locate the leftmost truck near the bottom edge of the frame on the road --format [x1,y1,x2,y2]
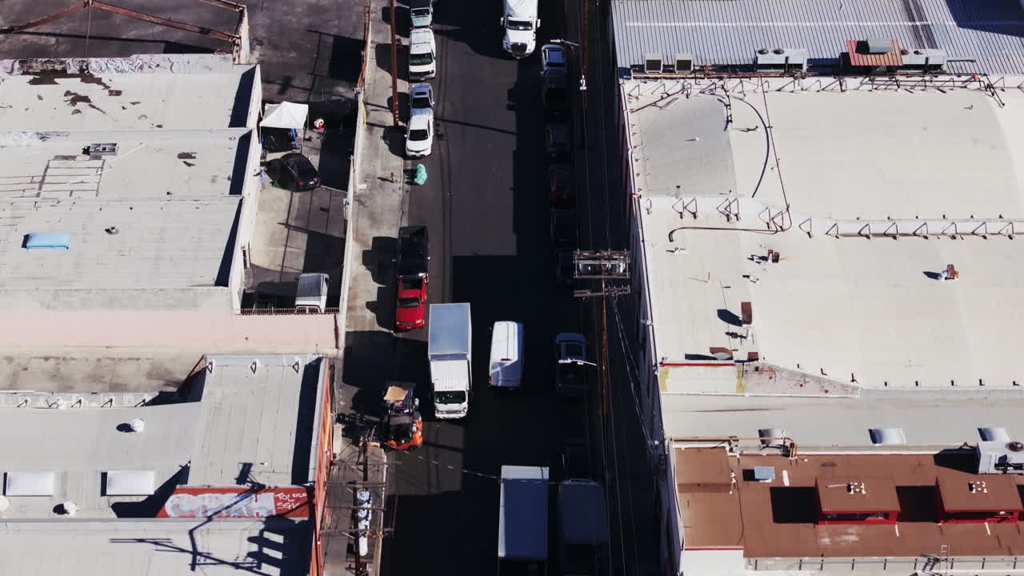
[497,465,551,576]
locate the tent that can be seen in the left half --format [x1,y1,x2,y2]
[263,104,308,154]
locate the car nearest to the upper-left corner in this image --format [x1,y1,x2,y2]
[271,154,318,194]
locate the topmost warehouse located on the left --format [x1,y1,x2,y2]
[0,52,270,355]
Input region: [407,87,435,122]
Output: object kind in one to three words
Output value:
car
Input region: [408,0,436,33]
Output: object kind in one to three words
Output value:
truck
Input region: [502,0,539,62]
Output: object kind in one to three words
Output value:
truck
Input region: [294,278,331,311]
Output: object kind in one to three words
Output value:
van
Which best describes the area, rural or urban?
urban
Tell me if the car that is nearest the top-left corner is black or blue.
black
